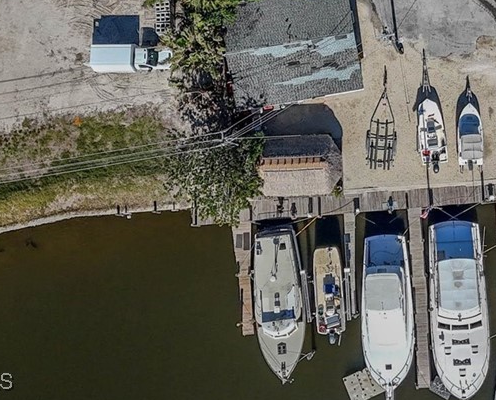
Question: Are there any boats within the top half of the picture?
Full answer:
Yes, within the top half of the picture there is a boat.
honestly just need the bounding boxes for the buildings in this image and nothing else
[253,134,344,198]
[222,0,365,113]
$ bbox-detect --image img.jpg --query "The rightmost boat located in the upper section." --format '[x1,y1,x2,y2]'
[457,101,483,170]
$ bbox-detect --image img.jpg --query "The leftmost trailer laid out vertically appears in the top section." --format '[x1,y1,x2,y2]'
[367,68,397,169]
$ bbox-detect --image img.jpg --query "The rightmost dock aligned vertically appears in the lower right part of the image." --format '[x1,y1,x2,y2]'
[405,210,433,388]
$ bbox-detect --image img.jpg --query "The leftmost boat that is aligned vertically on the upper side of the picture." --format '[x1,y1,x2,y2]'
[416,99,446,177]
